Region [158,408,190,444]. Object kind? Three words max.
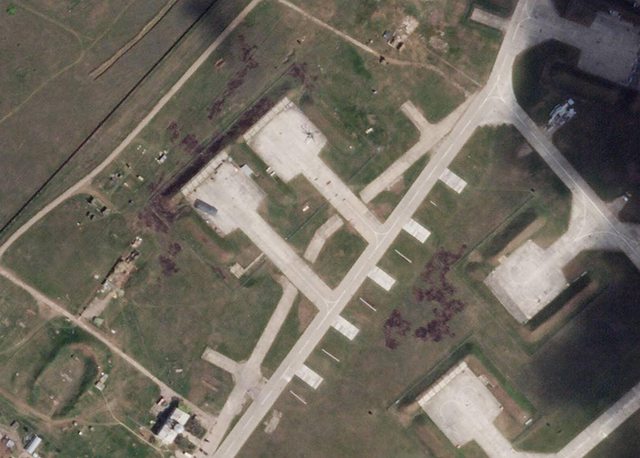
building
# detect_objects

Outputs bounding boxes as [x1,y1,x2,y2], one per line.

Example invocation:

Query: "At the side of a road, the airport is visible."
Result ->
[188,0,640,458]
